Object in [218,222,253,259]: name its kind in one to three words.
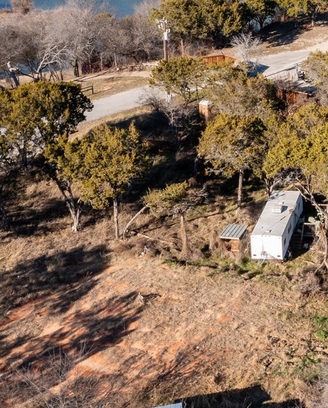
shed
